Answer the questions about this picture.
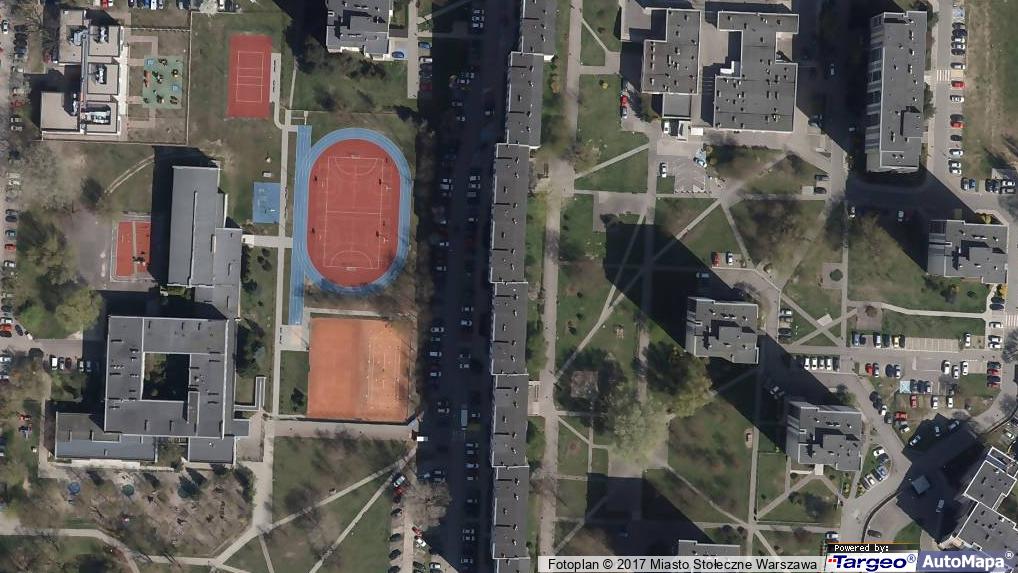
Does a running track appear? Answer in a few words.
Yes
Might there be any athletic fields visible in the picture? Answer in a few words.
Yes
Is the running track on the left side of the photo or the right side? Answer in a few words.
left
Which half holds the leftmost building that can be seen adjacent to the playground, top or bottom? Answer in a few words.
top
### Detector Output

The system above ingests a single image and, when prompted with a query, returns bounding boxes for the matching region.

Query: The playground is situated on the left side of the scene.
[142,56,183,108]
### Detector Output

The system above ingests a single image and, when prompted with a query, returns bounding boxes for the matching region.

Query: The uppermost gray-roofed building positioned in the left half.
[327,0,392,59]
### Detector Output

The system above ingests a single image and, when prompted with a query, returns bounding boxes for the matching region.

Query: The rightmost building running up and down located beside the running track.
[486,0,556,573]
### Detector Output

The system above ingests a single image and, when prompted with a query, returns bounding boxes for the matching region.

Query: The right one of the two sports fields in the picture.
[306,139,401,286]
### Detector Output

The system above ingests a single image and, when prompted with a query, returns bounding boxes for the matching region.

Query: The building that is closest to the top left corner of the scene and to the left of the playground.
[41,10,122,133]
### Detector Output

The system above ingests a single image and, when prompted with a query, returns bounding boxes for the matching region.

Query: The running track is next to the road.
[289,125,411,325]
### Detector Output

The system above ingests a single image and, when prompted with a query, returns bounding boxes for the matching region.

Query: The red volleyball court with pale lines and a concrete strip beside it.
[228,35,271,117]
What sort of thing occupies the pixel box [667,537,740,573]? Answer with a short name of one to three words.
building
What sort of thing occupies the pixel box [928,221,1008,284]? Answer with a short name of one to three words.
building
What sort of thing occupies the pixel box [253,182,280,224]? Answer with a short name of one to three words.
sports court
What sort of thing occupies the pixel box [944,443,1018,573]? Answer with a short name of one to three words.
house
